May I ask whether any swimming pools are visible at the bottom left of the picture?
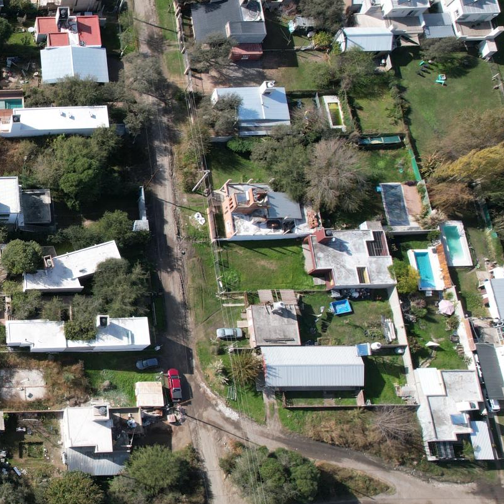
No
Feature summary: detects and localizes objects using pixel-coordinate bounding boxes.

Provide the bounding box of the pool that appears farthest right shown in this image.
[441,220,473,266]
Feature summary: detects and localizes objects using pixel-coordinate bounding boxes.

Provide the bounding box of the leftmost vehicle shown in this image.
[134,356,162,371]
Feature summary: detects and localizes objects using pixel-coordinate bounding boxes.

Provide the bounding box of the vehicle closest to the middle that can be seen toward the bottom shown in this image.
[215,326,244,340]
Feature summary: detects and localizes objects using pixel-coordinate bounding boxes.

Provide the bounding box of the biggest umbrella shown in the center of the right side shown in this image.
[436,295,455,313]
